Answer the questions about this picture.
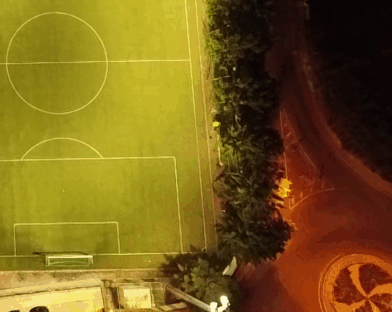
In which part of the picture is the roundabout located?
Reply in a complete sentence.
The roundabout is in the bottom right part of the image.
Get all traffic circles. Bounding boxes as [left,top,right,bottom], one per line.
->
[321,251,392,312]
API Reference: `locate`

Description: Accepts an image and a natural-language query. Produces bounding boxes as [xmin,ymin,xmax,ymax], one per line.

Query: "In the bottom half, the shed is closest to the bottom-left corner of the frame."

[120,286,153,309]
